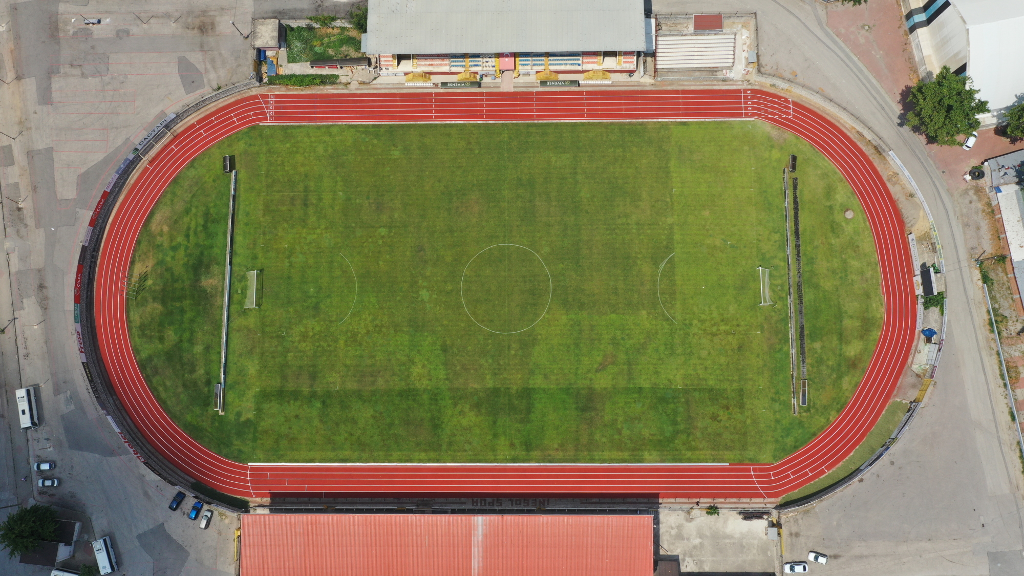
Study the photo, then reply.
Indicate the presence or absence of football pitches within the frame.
Yes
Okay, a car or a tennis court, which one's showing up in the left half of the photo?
car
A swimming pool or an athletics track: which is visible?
athletics track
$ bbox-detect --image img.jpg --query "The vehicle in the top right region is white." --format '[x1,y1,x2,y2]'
[961,133,977,152]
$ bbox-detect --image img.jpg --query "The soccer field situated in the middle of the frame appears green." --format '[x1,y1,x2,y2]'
[253,126,765,457]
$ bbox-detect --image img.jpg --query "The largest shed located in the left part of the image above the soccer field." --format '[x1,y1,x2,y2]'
[252,19,283,52]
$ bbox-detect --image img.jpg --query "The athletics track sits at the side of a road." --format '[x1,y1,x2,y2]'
[94,89,917,499]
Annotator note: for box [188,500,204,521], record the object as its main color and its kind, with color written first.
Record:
blue car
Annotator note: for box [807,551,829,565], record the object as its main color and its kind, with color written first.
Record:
white car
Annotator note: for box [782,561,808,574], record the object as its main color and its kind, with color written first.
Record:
white vehicle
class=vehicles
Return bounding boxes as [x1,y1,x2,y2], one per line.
[782,561,808,574]
[188,500,204,521]
[169,491,186,512]
[52,564,95,576]
[34,461,56,471]
[961,133,977,152]
[807,551,829,565]
[198,508,214,530]
[18,388,40,429]
[94,535,119,576]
